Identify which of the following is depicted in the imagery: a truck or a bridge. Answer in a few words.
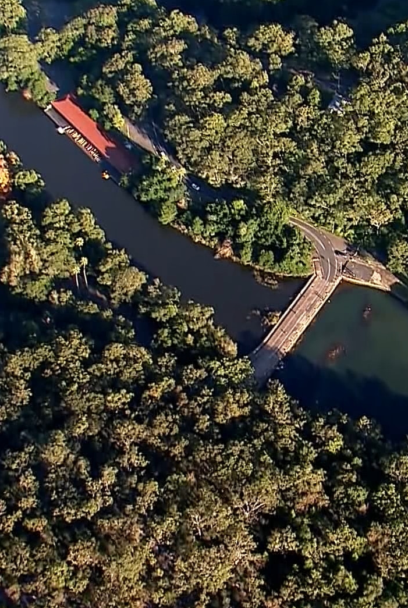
bridge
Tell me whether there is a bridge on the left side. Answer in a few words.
No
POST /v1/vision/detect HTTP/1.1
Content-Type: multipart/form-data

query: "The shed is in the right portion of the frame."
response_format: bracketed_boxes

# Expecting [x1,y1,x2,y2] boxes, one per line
[323,96,349,118]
